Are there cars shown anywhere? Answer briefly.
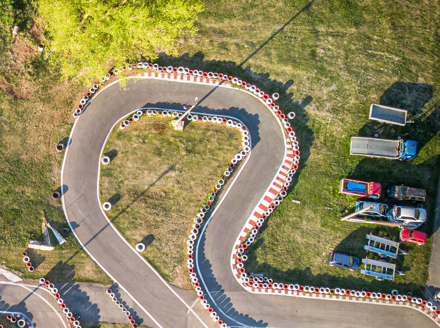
Yes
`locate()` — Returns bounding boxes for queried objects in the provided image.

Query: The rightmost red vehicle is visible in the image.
[398,228,428,244]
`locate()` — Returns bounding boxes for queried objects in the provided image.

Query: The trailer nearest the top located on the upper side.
[369,103,411,126]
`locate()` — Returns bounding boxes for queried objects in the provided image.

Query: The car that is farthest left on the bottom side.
[328,253,359,270]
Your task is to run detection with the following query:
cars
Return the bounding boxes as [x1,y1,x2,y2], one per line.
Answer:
[387,185,425,202]
[392,205,426,221]
[355,201,388,217]
[429,287,440,306]
[398,228,428,244]
[328,253,359,270]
